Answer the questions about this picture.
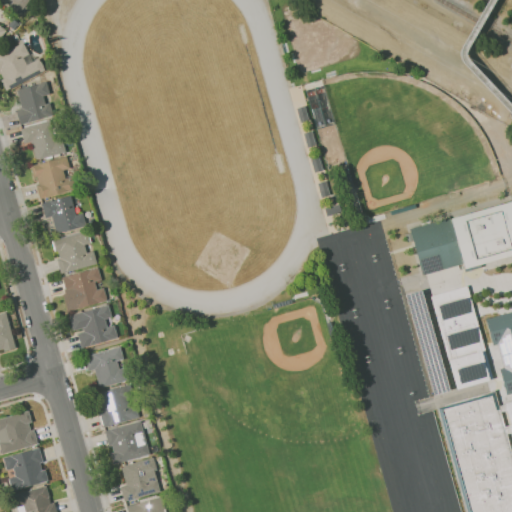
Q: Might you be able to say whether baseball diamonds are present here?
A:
Yes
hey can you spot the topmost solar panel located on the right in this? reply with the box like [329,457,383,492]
[422,252,445,272]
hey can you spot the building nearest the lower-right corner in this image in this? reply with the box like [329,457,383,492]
[437,390,512,512]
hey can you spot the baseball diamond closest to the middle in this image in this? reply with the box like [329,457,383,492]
[195,232,251,287]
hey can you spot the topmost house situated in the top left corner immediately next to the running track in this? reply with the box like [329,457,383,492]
[0,50,46,89]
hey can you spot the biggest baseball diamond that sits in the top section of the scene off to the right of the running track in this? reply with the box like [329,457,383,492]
[326,72,506,216]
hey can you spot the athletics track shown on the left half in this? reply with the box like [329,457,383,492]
[65,0,322,316]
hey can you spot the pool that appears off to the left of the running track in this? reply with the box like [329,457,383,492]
[30,34,42,54]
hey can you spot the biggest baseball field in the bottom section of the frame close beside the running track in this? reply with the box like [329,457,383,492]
[188,299,358,443]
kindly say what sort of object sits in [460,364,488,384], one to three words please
solar panel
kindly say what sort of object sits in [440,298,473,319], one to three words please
solar panel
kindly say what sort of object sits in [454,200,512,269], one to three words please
building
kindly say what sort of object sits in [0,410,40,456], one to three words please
house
